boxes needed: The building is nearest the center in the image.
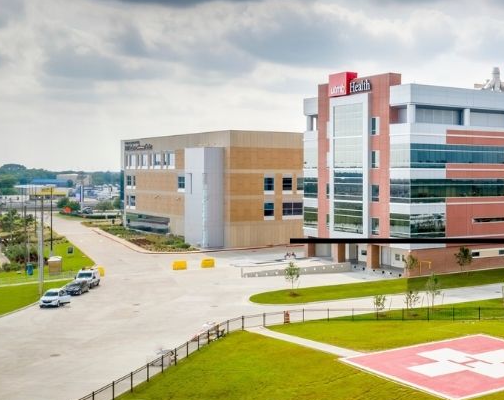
[118,130,307,249]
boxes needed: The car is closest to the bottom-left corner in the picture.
[42,290,74,306]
